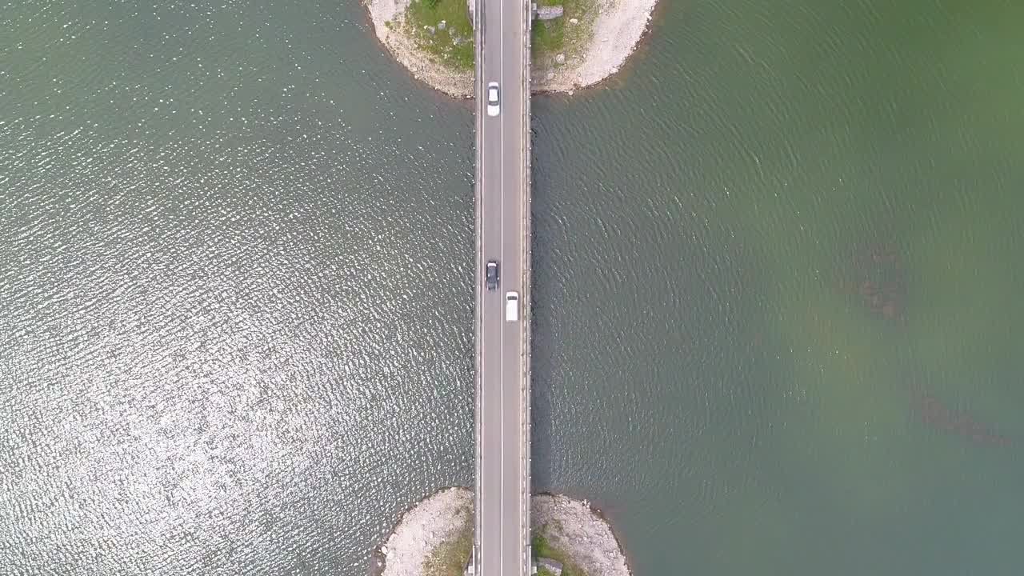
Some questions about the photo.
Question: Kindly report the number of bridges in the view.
1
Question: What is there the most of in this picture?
water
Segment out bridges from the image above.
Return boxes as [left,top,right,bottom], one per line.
[473,25,532,548]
